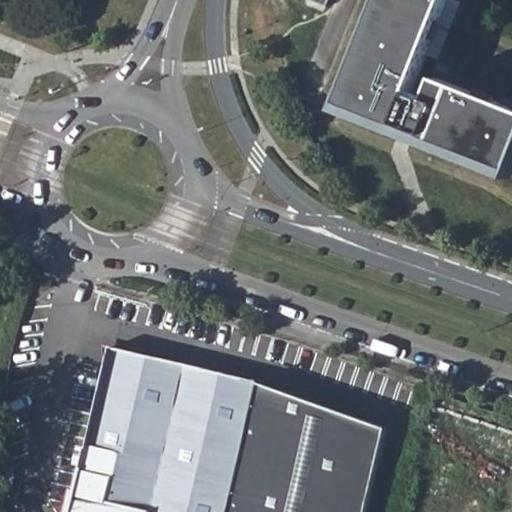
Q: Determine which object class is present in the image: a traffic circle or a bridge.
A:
traffic circle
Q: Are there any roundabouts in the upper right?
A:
No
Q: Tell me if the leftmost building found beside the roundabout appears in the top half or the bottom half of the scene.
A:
bottom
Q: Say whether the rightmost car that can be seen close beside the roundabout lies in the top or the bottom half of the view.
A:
top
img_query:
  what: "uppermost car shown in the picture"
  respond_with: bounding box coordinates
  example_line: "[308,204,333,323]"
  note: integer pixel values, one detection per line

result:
[145,19,160,40]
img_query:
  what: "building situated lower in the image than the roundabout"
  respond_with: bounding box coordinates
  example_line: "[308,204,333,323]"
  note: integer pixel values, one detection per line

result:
[64,346,382,512]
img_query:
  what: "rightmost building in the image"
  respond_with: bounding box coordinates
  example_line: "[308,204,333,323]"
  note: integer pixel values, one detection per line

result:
[325,0,512,176]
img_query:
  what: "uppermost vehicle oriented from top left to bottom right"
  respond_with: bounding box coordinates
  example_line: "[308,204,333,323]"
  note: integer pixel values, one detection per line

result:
[192,156,212,178]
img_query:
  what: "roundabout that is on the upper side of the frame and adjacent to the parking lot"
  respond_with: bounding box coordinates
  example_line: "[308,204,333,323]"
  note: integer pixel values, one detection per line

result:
[32,94,202,266]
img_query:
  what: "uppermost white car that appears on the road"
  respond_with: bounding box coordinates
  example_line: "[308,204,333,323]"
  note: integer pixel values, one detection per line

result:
[116,61,134,82]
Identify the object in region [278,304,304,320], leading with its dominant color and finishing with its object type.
white vehicle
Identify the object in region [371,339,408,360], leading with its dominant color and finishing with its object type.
white truck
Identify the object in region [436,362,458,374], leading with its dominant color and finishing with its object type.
white vehicle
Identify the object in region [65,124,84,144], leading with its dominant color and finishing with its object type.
white car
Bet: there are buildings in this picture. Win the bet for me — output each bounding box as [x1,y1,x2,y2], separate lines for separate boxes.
[305,0,326,11]
[64,346,382,512]
[325,0,512,176]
